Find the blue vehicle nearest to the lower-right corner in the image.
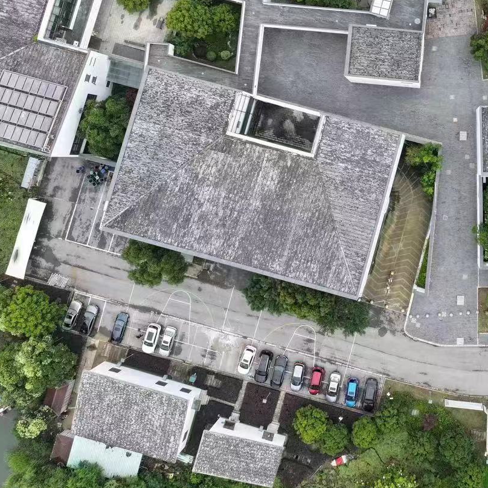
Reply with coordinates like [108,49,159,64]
[344,376,360,407]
